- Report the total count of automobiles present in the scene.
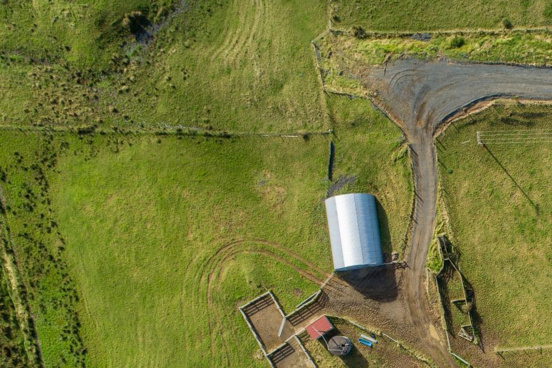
zero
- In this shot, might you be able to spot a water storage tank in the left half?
No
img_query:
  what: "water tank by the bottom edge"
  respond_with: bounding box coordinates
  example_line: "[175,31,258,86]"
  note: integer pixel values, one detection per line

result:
[322,333,355,358]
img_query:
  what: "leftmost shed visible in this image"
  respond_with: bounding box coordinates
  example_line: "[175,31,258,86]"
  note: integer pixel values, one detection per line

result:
[306,316,334,340]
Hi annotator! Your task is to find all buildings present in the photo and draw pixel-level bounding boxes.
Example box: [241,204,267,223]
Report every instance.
[326,192,383,271]
[306,316,334,340]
